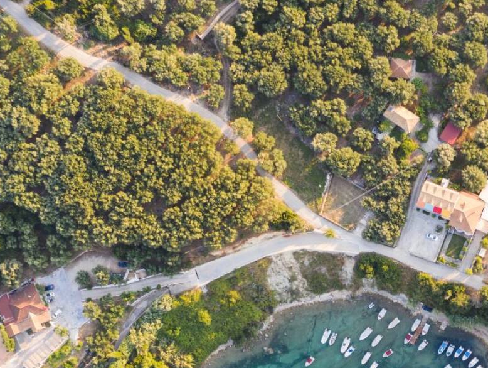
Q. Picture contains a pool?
No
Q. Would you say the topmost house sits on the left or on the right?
right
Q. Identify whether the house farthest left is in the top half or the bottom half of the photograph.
bottom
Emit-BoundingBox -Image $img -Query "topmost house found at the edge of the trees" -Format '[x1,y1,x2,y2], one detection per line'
[389,59,415,81]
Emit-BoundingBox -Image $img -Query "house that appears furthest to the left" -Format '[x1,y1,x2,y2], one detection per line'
[0,282,66,368]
